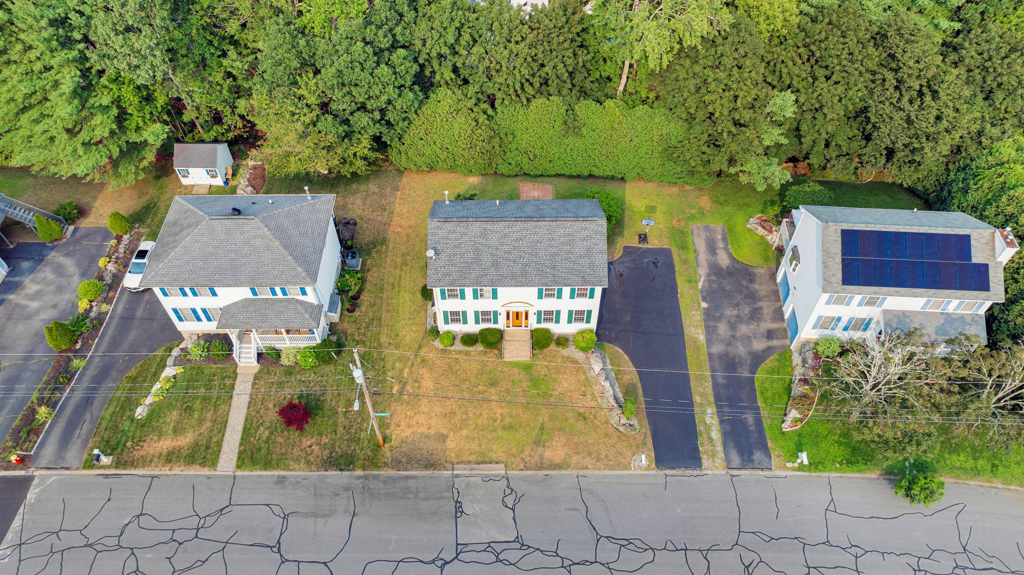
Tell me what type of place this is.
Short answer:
residential area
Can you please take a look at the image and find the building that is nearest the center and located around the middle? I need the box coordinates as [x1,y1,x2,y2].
[425,194,608,360]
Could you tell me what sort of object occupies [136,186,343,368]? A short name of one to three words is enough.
house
